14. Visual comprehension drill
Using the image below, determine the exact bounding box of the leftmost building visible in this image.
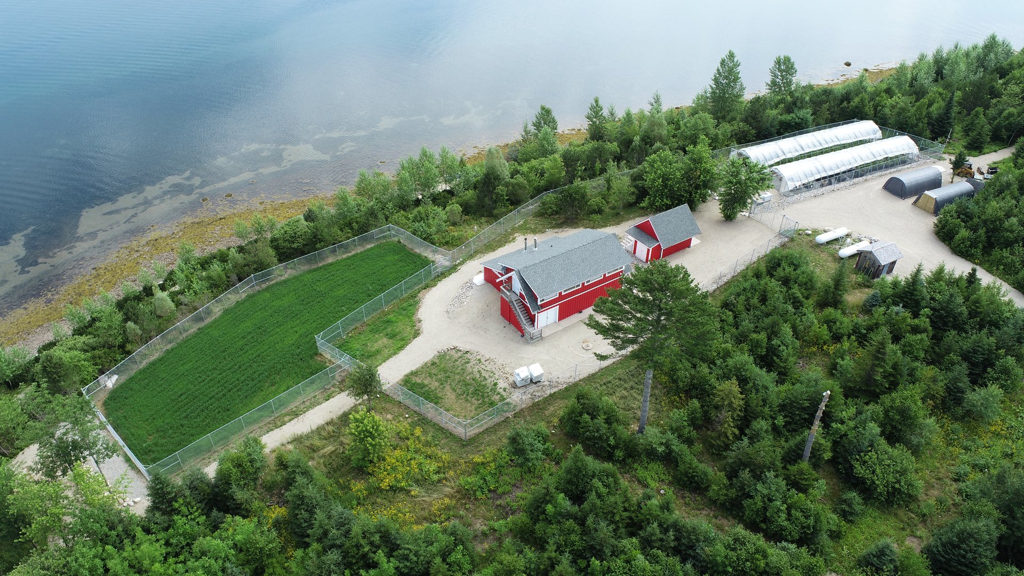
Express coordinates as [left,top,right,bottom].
[479,227,633,342]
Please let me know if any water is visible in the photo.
Yes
